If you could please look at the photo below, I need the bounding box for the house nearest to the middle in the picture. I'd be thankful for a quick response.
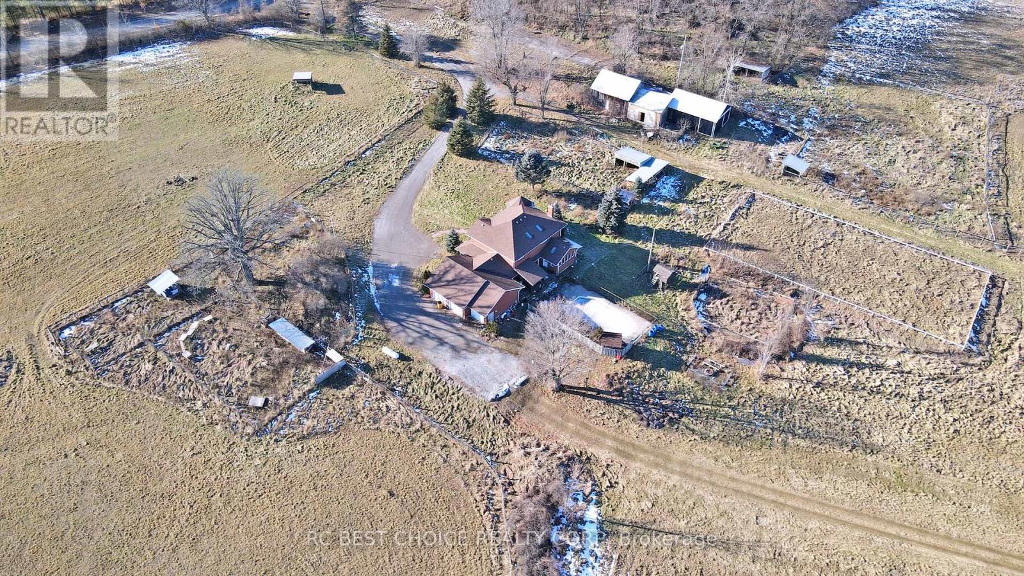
[423,195,585,325]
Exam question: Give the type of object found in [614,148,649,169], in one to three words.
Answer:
shed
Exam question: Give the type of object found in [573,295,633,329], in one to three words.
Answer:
swimming pool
